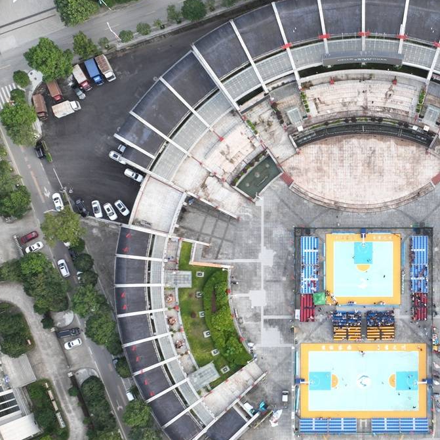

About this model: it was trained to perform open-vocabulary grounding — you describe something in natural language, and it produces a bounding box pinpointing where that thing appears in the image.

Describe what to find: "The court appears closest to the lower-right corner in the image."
[301,343,427,428]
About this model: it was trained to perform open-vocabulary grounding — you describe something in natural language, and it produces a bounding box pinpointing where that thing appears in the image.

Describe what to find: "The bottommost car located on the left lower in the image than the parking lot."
[123,387,137,402]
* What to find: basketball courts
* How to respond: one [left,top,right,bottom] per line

[301,343,427,428]
[326,233,401,306]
